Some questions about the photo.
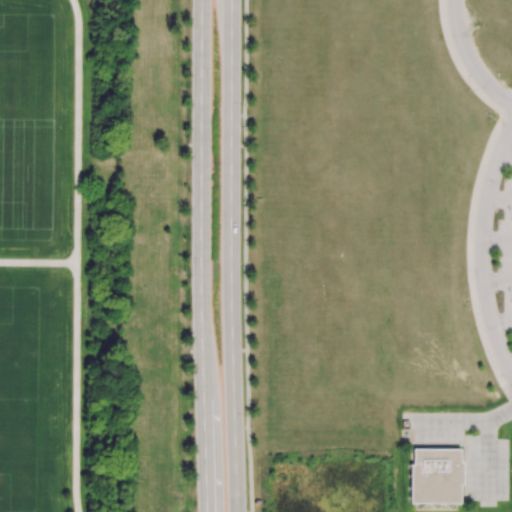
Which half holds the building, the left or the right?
right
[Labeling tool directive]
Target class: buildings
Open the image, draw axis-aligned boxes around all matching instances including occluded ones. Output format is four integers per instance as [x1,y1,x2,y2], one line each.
[409,449,466,506]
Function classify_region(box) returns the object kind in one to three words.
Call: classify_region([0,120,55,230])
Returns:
sports field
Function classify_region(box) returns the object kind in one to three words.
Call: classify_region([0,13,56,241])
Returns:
soccer field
